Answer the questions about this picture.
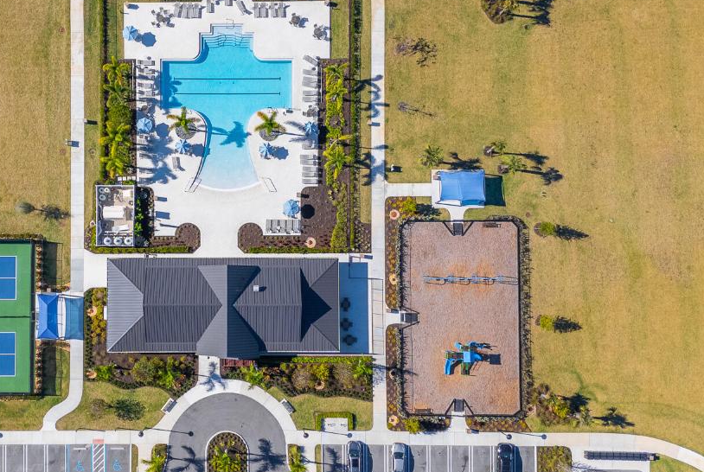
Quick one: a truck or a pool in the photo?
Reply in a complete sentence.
Looking from above, you can make out a pool.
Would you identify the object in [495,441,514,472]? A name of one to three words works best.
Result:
car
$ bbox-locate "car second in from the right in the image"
[391,441,407,472]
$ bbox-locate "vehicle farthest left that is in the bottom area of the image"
[347,439,363,472]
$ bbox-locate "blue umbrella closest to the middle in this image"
[285,199,300,215]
